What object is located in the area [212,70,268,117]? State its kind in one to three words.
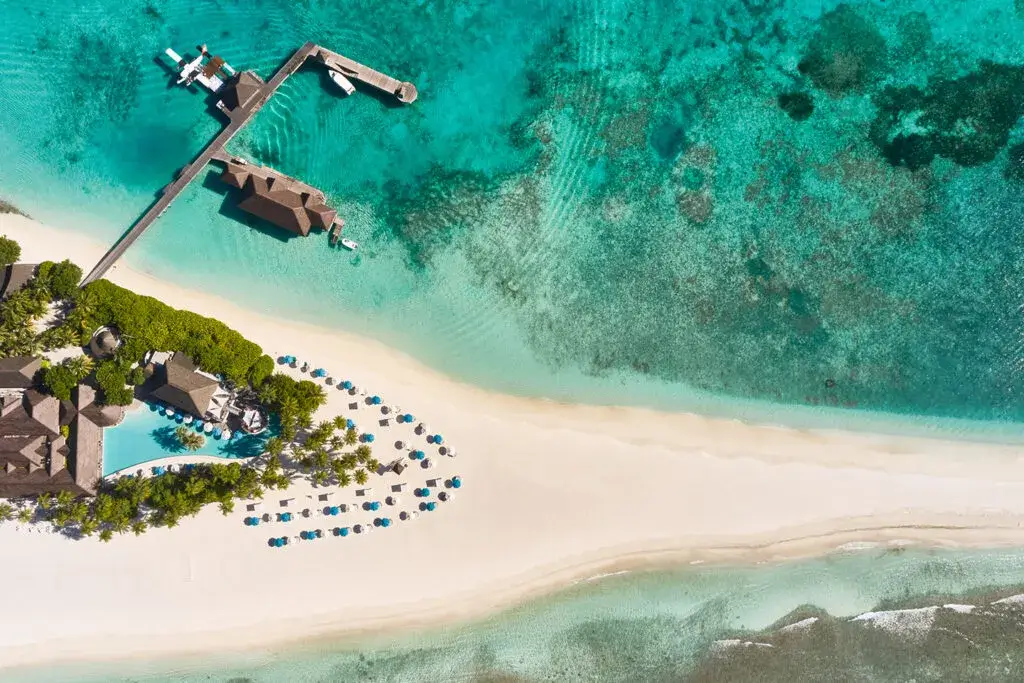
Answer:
building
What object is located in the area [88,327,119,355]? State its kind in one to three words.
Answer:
shed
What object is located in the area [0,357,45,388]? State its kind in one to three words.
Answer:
house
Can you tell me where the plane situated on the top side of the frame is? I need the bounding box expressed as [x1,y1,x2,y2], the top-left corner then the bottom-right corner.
[165,40,214,89]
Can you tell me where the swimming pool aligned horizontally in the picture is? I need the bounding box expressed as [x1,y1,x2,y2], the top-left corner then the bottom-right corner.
[105,402,285,477]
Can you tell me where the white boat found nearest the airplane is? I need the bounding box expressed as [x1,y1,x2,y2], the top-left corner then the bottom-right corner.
[330,71,356,95]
